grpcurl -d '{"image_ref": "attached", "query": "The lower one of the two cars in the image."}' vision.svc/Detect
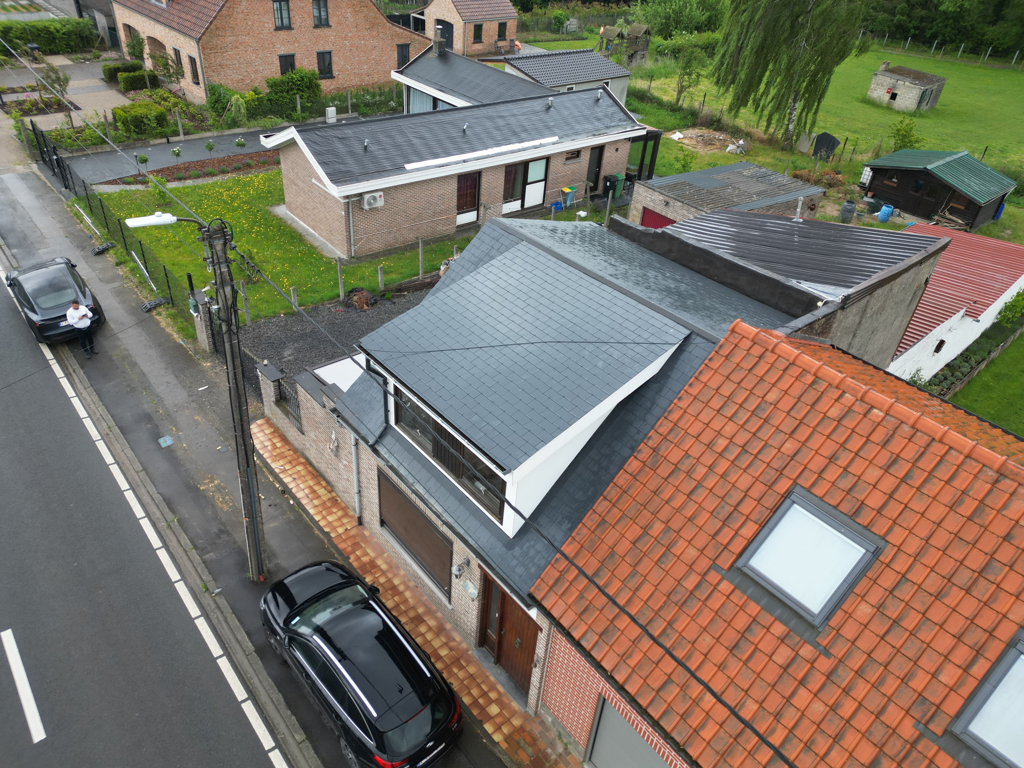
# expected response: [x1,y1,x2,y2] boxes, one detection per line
[258,563,466,768]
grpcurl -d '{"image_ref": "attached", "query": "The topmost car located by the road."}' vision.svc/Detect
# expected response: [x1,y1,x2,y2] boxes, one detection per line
[0,259,102,338]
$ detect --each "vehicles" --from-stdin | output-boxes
[258,563,466,768]
[0,259,102,338]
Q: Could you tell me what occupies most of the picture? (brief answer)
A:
buildings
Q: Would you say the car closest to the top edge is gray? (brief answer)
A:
Yes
